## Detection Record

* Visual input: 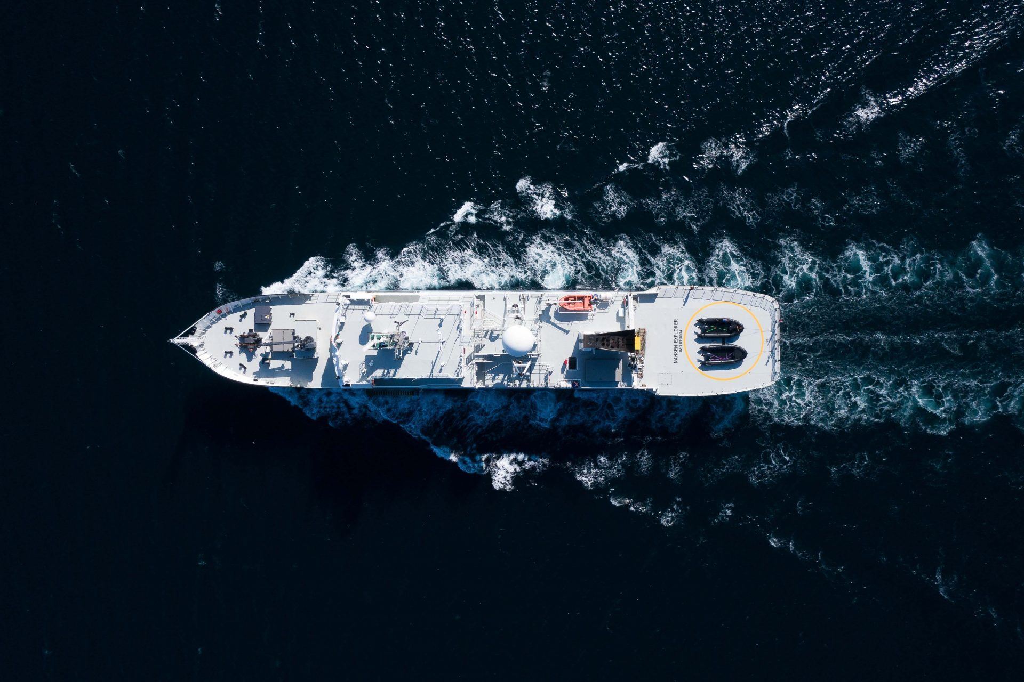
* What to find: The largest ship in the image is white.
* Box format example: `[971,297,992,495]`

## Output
[170,286,790,399]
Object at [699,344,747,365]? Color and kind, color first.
black boat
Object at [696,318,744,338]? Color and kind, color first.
black boat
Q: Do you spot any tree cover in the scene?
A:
No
